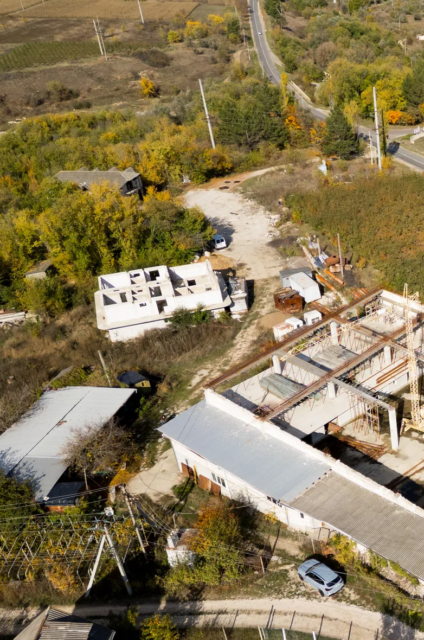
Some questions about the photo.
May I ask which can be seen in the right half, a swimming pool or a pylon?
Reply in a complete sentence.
It is a pylon that can be seen in the right half.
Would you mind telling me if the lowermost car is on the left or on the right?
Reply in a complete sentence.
You can find the lowermost car on the right side of the picture.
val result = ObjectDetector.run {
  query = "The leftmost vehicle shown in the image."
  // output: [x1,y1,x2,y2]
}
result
[216,232,229,248]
